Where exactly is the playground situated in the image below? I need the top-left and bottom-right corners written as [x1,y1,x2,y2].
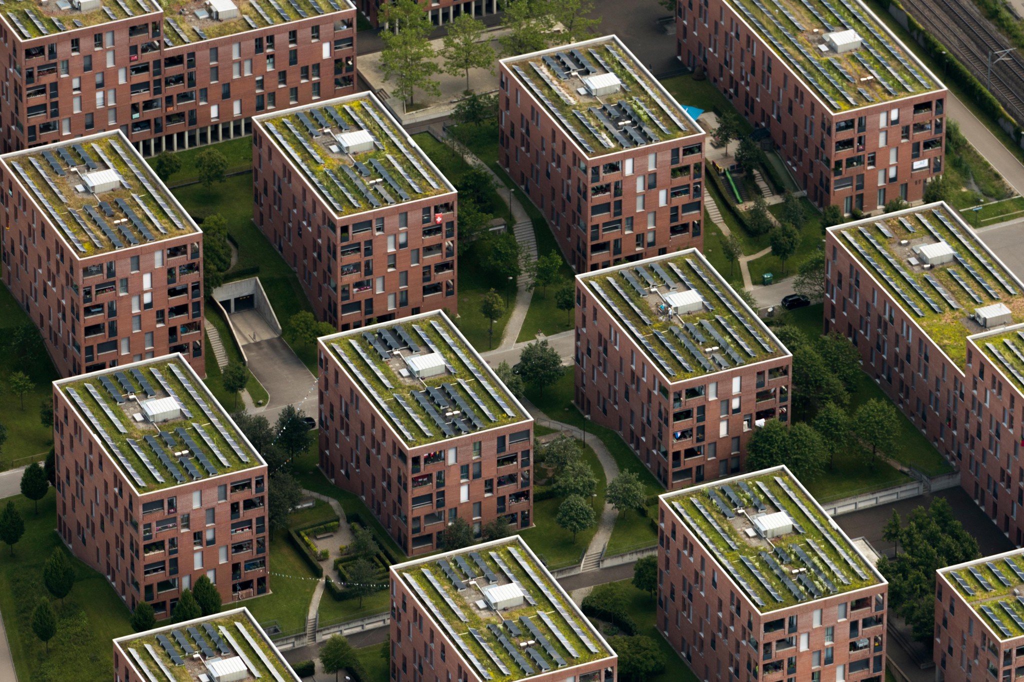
[692,110,742,165]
